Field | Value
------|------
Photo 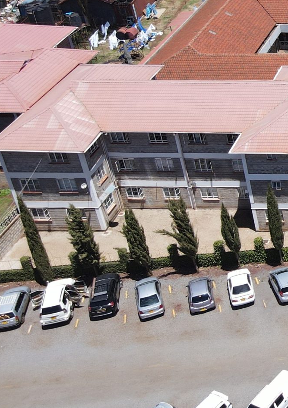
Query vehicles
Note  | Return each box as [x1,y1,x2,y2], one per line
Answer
[184,272,215,314]
[243,368,288,408]
[131,271,166,322]
[187,386,235,408]
[224,264,255,308]
[36,273,91,326]
[268,264,288,303]
[87,269,129,319]
[0,281,39,327]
